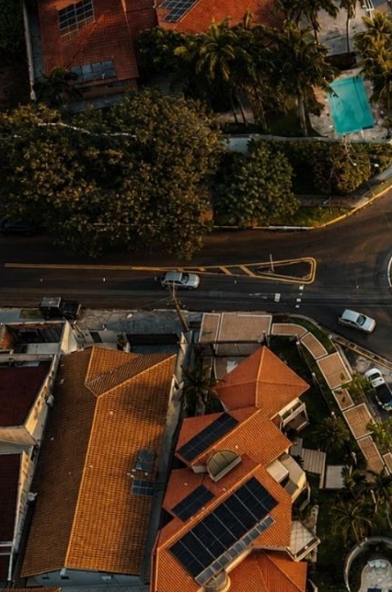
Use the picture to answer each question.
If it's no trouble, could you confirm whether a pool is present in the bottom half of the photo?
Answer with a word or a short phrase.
No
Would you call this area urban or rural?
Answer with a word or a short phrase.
urban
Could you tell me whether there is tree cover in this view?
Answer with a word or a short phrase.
Yes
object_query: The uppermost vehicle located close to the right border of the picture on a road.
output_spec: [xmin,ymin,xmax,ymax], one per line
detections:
[337,305,377,334]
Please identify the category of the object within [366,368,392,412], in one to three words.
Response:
truck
